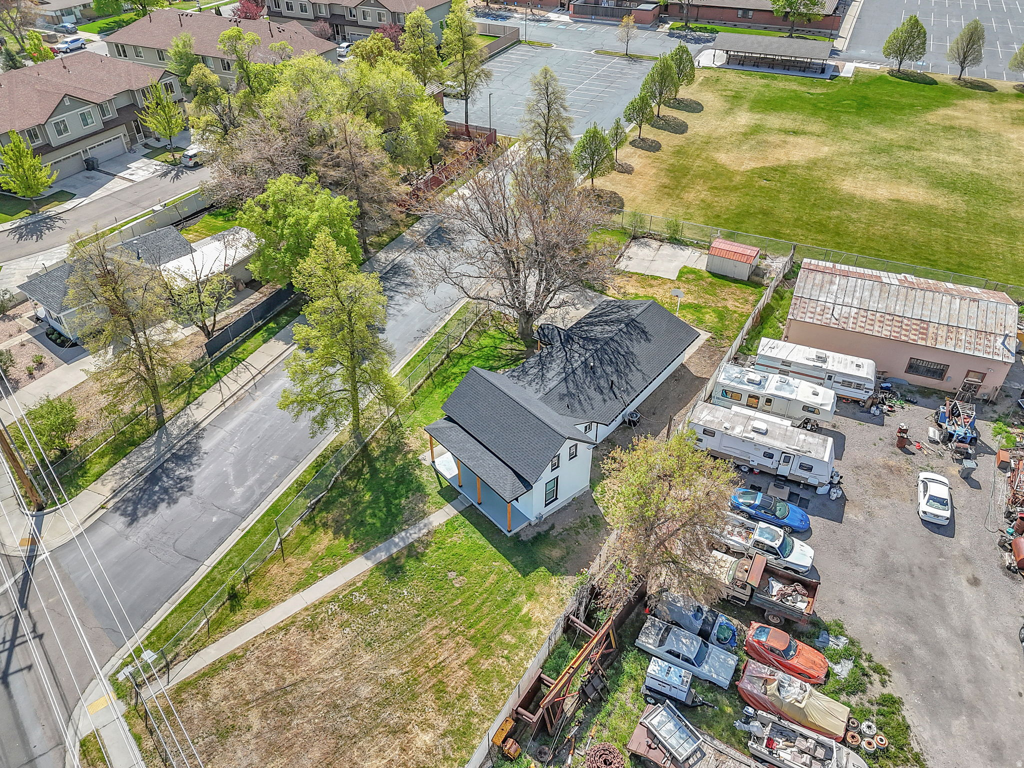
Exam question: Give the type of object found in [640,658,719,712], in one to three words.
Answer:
trailer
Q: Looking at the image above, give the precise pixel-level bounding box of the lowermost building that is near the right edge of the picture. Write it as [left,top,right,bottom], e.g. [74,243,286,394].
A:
[782,257,1024,405]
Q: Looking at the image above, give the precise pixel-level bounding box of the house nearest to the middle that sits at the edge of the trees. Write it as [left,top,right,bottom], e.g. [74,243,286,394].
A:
[424,299,702,537]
